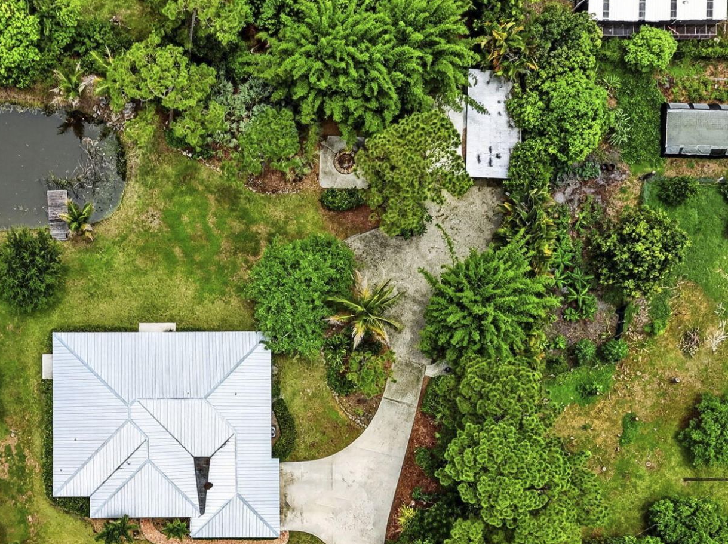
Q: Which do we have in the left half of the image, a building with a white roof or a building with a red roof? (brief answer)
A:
building with a white roof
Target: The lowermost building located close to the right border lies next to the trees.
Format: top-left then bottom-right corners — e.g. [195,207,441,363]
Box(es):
[644,102,728,163]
